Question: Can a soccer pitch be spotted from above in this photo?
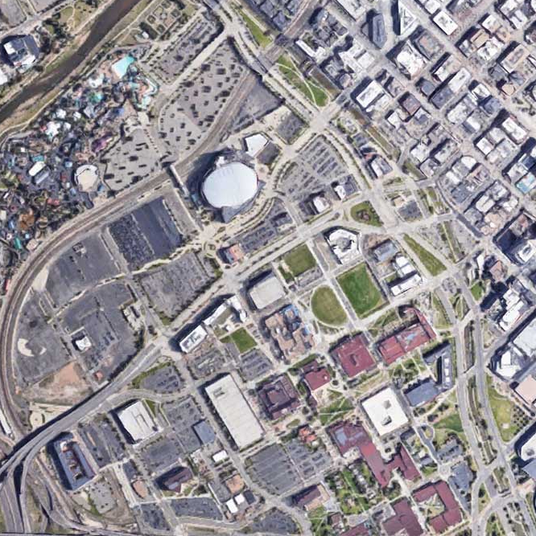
Yes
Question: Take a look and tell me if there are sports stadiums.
Yes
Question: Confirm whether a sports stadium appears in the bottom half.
No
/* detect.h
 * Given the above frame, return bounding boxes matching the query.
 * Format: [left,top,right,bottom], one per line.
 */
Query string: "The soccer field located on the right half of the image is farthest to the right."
[337,262,389,316]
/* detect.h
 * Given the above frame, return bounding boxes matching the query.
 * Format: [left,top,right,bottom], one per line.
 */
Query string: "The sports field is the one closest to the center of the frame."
[283,243,318,278]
